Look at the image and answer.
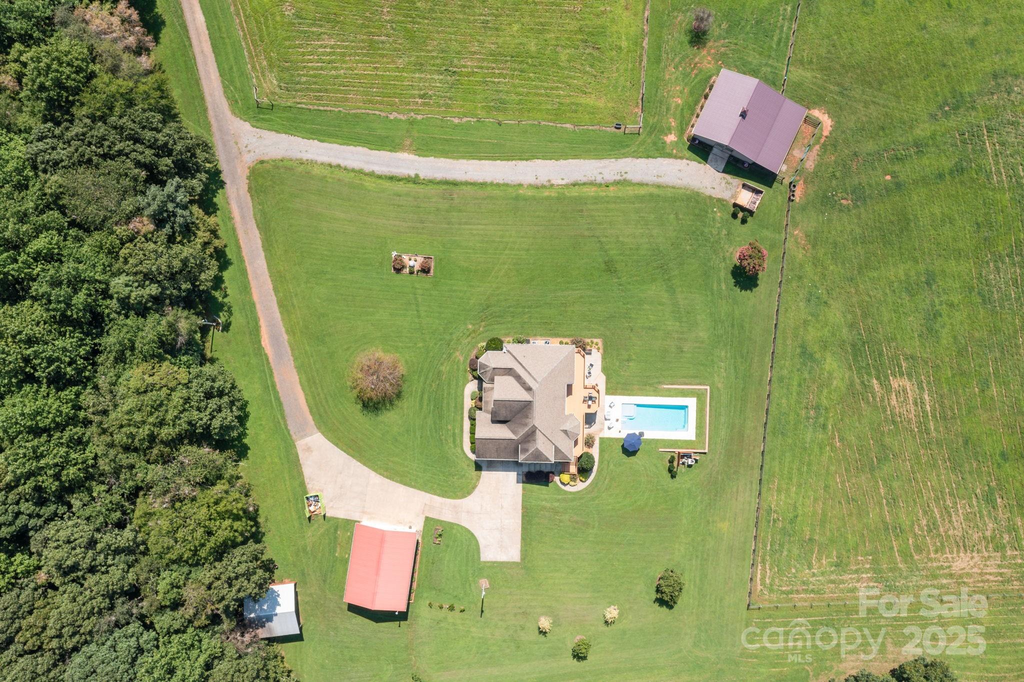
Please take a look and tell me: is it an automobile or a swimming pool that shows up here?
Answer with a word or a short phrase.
swimming pool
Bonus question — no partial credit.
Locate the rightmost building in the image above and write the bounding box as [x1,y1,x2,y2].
[691,69,808,175]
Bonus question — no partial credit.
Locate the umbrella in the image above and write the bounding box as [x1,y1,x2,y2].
[624,431,645,451]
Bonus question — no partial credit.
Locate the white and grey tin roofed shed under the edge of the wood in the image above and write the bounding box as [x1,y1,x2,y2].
[244,583,304,640]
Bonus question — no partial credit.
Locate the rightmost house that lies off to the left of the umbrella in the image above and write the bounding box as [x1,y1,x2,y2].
[475,344,581,463]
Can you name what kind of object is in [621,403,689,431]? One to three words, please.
swimming pool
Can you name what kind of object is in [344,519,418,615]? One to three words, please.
barn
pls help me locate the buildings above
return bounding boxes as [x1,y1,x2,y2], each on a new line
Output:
[475,344,581,463]
[244,583,304,640]
[691,69,808,175]
[344,519,418,615]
